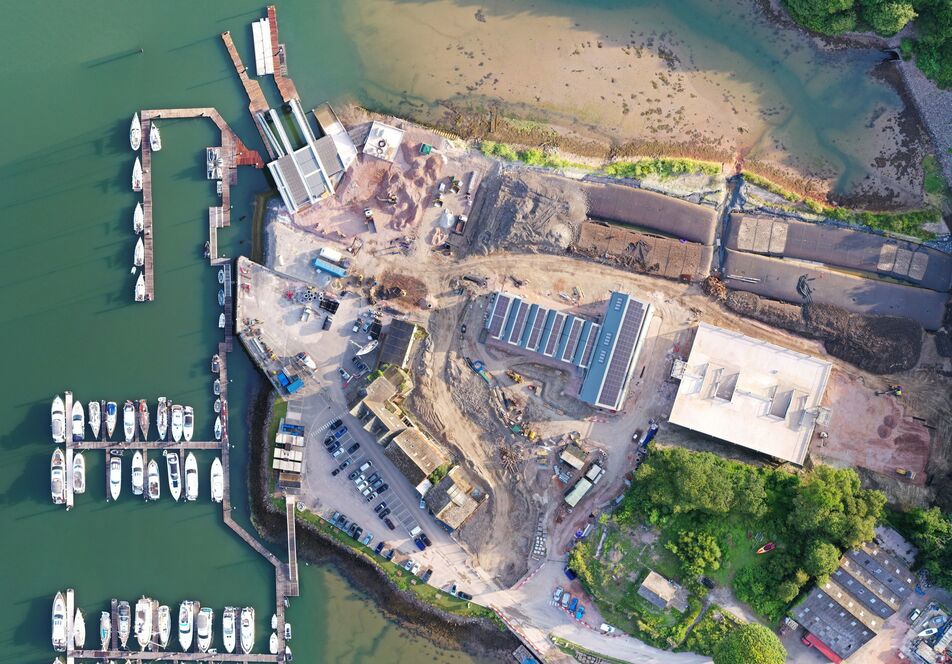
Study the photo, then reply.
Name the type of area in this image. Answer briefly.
port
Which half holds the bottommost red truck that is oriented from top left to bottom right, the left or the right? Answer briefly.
right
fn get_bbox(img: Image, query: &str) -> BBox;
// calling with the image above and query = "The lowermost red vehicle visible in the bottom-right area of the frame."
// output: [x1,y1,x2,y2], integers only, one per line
[804,632,847,664]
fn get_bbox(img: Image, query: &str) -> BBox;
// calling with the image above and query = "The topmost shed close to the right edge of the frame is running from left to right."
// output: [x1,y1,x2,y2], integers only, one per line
[723,214,952,291]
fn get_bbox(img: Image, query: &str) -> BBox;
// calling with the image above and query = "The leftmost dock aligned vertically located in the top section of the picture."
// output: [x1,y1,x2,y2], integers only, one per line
[141,118,154,301]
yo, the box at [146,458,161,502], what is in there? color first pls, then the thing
white boat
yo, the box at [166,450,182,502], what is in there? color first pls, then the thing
white boat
